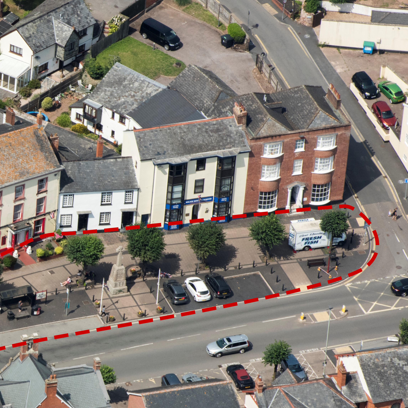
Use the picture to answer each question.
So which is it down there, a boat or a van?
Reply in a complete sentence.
Visible in the photo is a van.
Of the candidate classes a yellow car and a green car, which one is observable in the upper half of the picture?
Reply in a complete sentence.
What appears in the upper half of the picture is a green car.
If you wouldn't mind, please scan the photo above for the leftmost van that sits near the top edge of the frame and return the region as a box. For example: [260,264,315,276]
[139,16,181,50]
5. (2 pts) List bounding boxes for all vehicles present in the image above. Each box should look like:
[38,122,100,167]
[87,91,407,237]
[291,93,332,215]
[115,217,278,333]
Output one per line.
[160,277,187,305]
[139,16,181,50]
[176,369,216,386]
[184,276,210,302]
[289,222,348,256]
[225,364,255,390]
[370,102,395,128]
[376,81,407,104]
[159,368,184,390]
[283,355,310,380]
[206,335,251,359]
[351,69,380,98]
[202,272,232,299]
[391,279,408,298]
